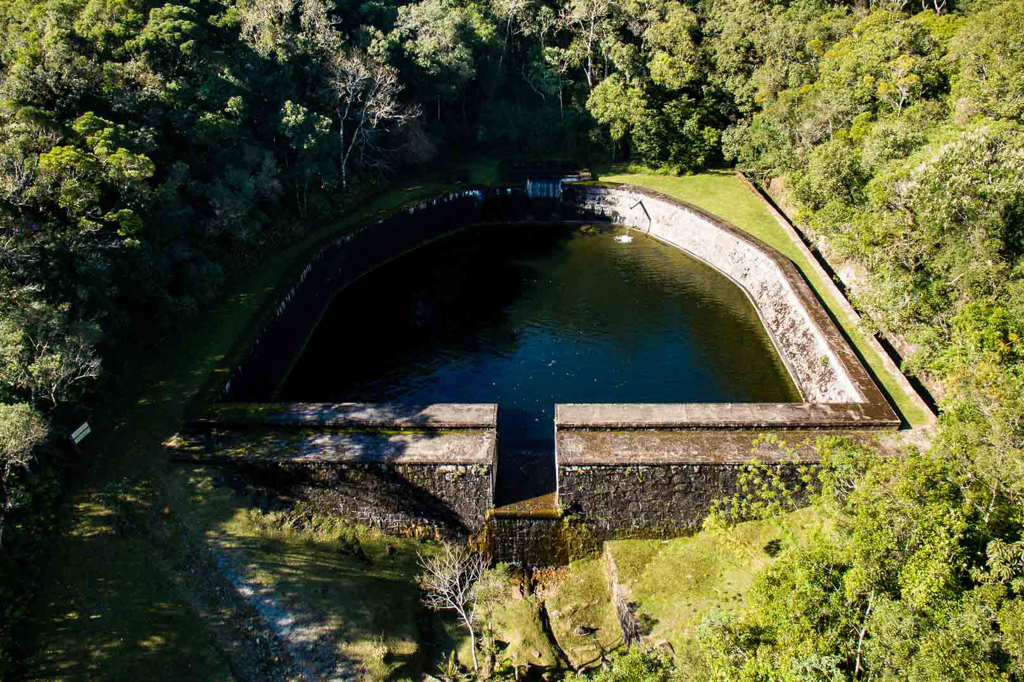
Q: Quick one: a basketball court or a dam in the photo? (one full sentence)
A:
I can see a dam in this picture.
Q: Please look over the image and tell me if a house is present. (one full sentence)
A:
No, the frame has no house in it.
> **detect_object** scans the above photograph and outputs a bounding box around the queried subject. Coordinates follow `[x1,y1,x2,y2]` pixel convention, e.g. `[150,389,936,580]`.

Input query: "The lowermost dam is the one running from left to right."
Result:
[141,402,973,576]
